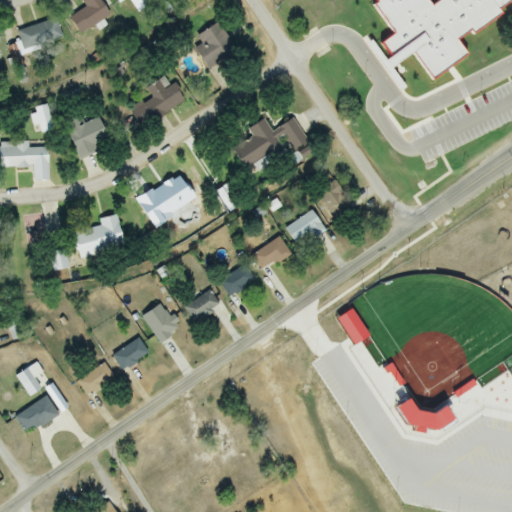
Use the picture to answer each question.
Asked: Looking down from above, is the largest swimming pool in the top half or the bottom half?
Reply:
top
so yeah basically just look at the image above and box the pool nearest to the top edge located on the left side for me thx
[180,51,203,76]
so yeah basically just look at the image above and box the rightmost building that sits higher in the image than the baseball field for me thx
[377,0,512,80]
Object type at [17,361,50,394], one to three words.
building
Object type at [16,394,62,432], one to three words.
house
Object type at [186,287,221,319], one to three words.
house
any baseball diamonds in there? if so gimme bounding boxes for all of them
[338,274,512,402]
